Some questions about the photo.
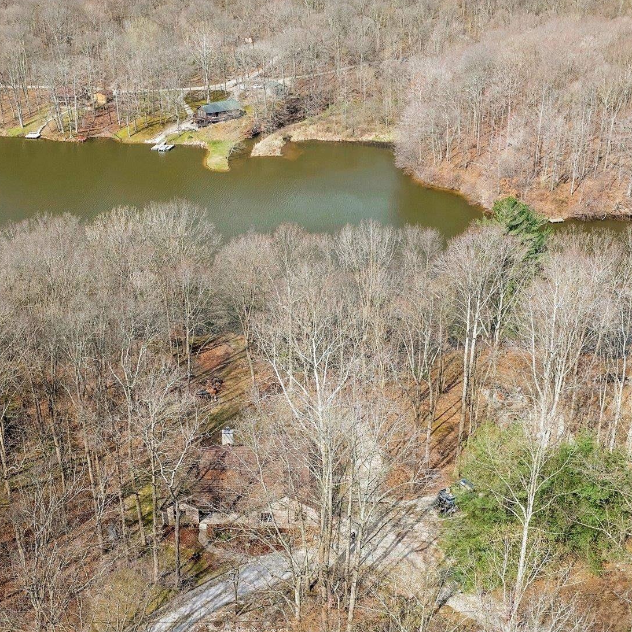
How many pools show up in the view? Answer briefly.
zero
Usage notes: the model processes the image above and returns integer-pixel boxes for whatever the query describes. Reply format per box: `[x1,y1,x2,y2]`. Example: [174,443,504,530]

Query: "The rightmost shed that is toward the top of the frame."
[260,79,289,97]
